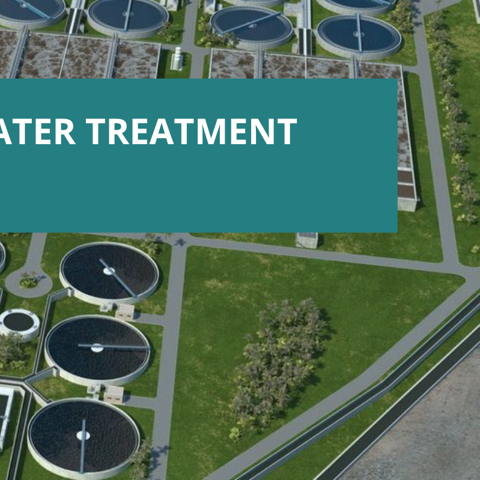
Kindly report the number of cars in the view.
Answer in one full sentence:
I count no cars.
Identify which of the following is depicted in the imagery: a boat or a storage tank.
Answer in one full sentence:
I can see a storage tank in this picture.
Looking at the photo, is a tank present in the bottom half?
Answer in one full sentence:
Yes, the scene does show a tank in the bottom half.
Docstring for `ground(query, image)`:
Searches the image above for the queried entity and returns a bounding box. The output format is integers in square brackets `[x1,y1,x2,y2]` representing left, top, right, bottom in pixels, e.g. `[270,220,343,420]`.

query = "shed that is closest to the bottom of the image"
[104,384,124,405]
